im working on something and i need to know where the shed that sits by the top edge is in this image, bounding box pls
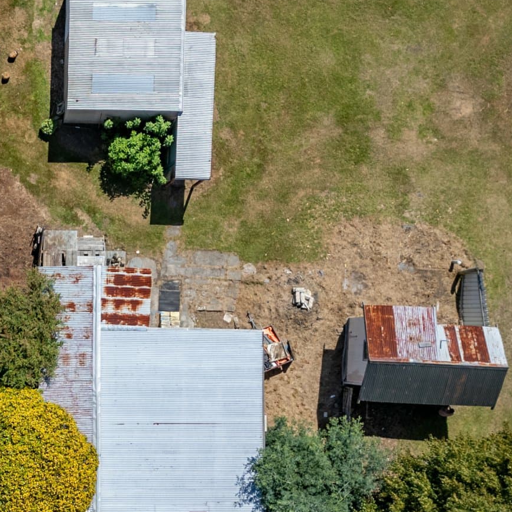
[64,0,217,183]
